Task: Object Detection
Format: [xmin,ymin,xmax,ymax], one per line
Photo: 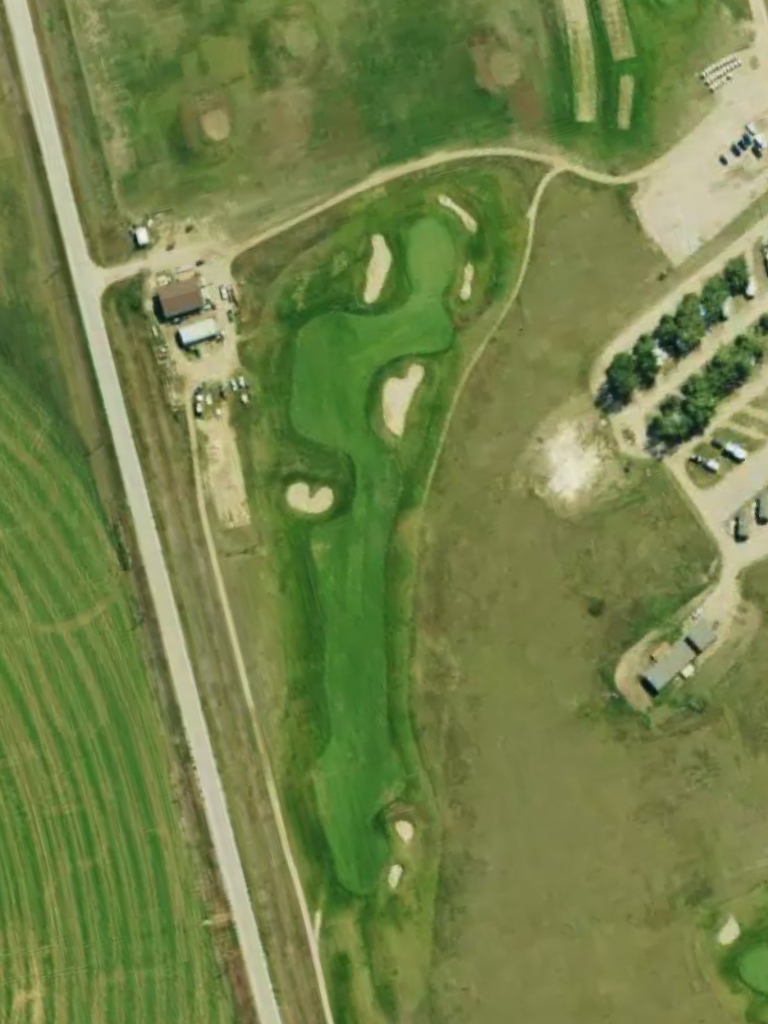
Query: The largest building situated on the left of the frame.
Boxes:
[156,276,204,316]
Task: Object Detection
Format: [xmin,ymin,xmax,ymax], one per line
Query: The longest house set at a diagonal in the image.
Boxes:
[642,622,718,692]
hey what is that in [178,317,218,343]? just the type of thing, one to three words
shed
